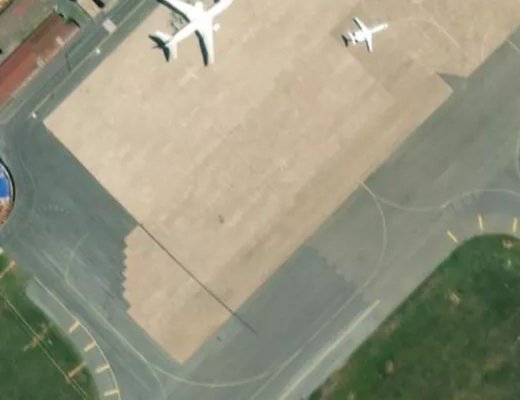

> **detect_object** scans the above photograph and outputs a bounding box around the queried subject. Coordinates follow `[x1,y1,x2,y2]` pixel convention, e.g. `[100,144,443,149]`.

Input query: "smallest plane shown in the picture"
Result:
[347,16,388,52]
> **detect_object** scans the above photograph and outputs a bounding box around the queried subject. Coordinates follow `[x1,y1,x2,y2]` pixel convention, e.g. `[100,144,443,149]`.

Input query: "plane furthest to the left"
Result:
[155,0,233,64]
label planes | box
[155,0,233,64]
[347,16,388,52]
